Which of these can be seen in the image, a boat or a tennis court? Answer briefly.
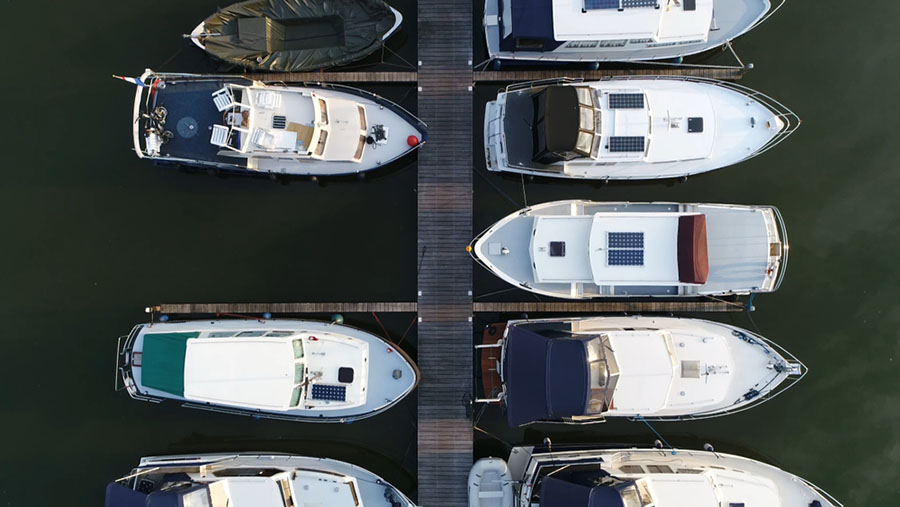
boat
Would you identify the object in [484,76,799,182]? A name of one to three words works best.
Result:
boat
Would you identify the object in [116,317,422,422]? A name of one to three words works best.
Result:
boat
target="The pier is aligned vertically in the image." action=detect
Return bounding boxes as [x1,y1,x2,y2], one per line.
[415,0,476,507]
